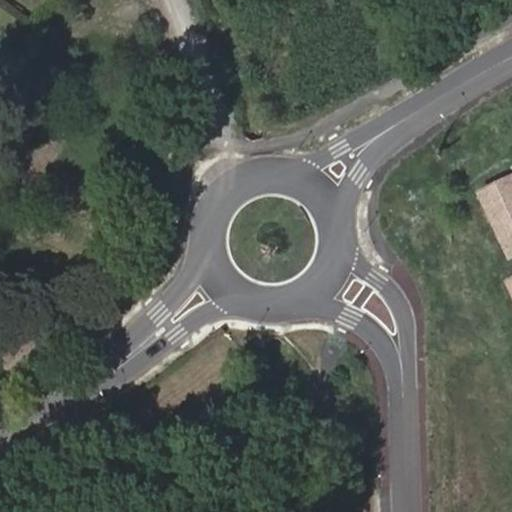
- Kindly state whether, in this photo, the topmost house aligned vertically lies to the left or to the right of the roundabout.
to the right of it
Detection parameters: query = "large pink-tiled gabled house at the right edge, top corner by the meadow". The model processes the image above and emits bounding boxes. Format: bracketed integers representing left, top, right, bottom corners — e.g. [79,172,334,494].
[476,176,512,261]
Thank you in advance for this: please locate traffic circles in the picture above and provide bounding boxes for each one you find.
[188,158,357,321]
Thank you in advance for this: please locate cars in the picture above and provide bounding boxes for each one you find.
[146,340,165,357]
